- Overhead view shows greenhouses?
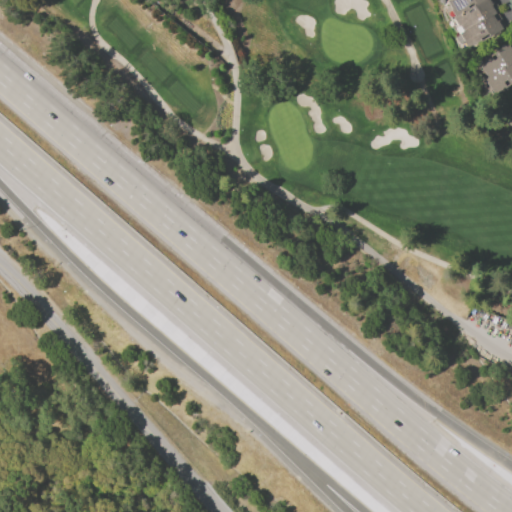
No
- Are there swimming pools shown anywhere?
No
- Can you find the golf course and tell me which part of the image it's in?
top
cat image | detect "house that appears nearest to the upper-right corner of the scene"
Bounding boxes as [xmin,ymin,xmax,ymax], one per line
[456,0,506,46]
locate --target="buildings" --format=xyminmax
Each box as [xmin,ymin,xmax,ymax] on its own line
[456,0,506,46]
[484,42,512,92]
